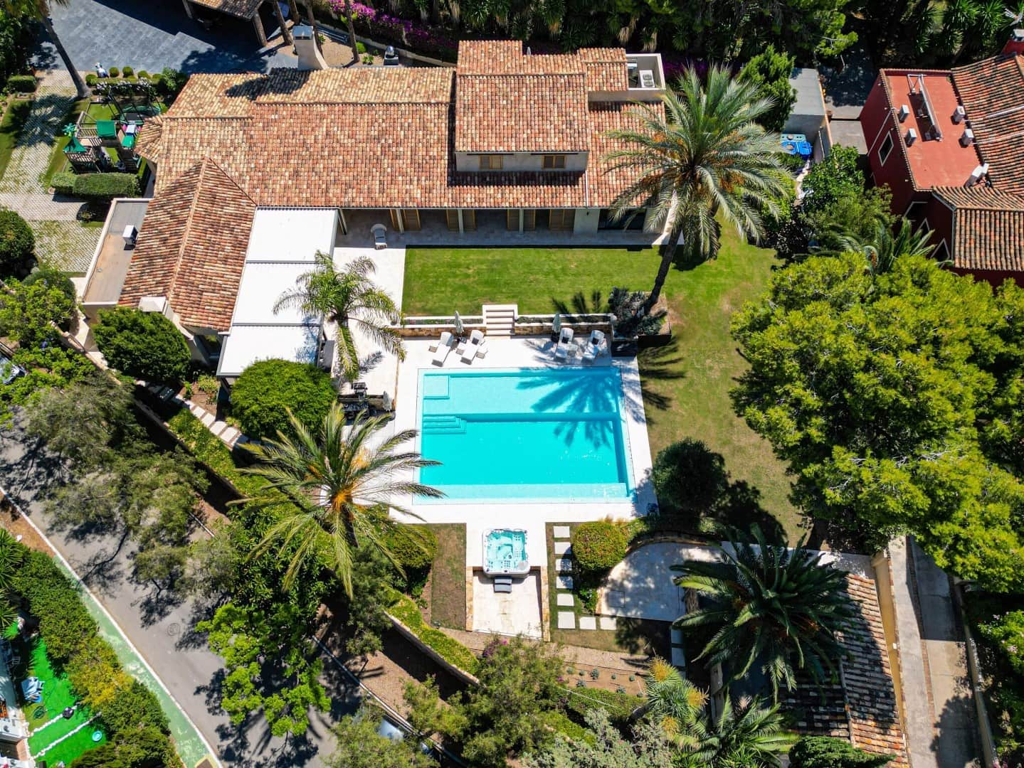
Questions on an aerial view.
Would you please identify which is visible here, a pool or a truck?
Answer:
pool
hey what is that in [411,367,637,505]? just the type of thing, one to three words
swimming pool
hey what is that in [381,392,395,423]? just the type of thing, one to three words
umbrella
